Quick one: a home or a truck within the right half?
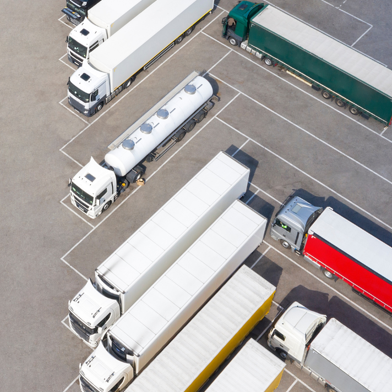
truck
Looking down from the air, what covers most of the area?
paved ground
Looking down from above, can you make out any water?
No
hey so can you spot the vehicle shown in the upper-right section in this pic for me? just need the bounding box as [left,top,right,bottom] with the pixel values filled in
[220,2,392,128]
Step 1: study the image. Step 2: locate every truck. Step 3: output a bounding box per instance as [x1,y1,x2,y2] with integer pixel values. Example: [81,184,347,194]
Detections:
[67,150,251,342]
[66,0,156,67]
[270,199,392,317]
[68,70,222,217]
[77,200,268,392]
[220,2,392,128]
[205,338,286,392]
[267,302,392,392]
[127,265,276,392]
[66,0,215,115]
